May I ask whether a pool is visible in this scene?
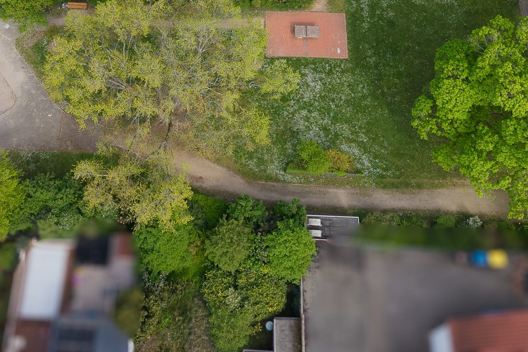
No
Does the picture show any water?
No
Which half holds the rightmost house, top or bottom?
bottom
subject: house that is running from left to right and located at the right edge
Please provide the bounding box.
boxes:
[428,310,528,352]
